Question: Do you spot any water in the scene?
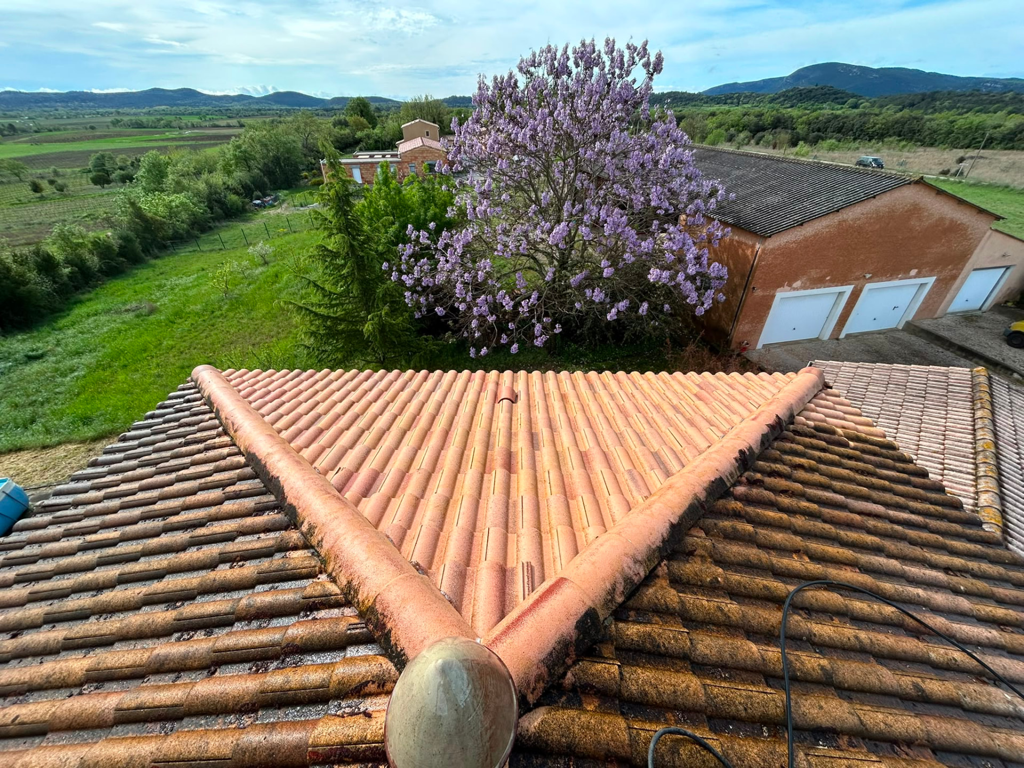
No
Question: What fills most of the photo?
buildings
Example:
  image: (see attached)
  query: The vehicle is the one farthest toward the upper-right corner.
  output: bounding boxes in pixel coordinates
[853,151,891,167]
